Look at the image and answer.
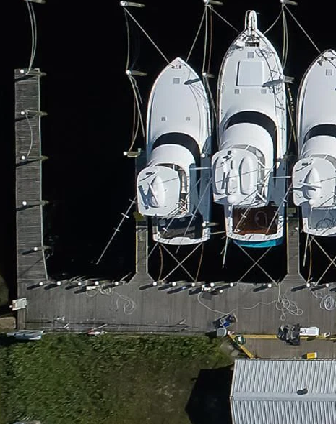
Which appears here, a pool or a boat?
boat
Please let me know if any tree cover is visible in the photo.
No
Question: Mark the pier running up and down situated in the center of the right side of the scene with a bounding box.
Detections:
[278,159,308,283]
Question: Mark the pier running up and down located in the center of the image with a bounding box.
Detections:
[125,159,157,285]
